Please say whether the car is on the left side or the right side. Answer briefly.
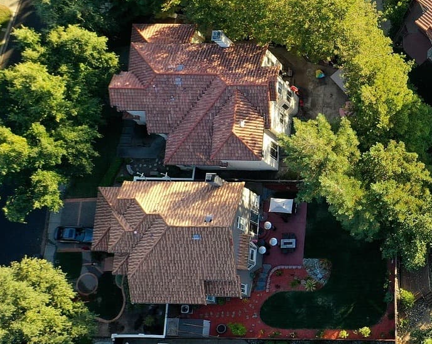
left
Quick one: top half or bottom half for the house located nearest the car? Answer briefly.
bottom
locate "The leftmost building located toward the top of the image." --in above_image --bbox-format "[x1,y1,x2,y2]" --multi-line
[108,22,295,172]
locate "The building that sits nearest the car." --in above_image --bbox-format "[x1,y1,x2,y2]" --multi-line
[89,172,260,304]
